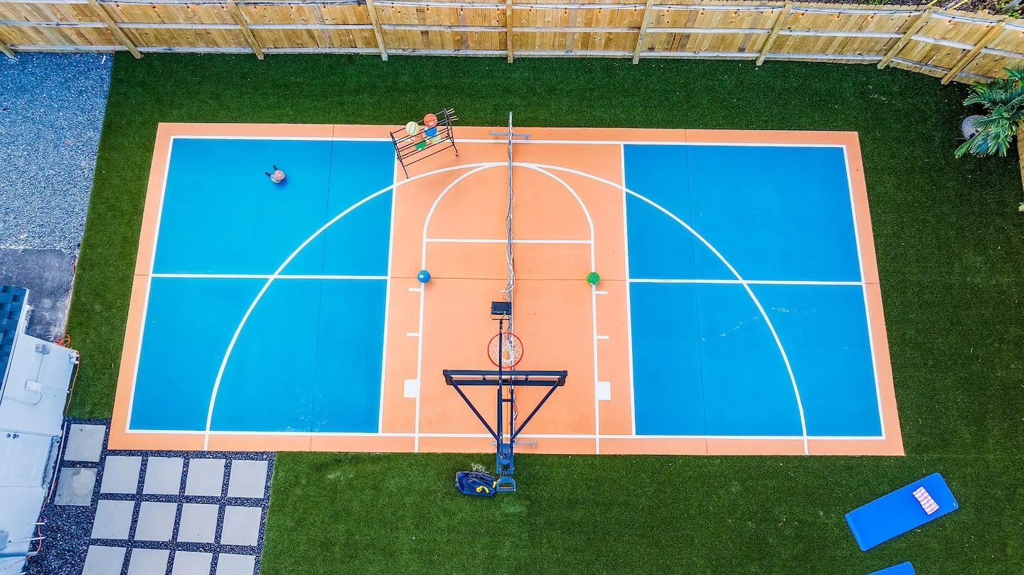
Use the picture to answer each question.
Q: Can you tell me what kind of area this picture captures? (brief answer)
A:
sports ground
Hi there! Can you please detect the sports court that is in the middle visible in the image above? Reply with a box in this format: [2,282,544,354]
[107,123,905,456]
